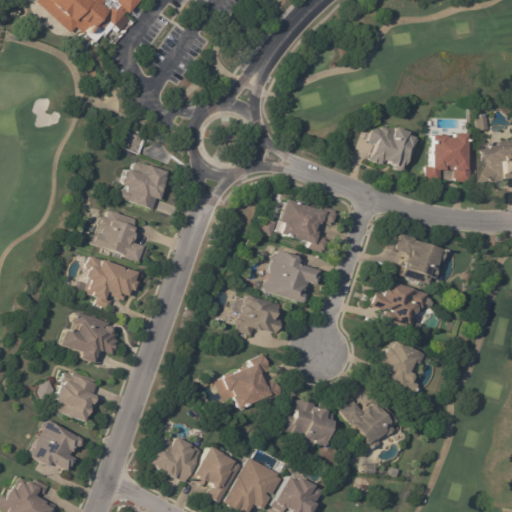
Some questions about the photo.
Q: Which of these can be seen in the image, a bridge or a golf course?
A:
golf course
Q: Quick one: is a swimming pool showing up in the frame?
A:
Yes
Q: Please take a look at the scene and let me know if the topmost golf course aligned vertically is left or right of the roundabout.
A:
on its left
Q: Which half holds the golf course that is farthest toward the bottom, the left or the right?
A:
right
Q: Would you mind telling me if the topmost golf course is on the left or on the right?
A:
right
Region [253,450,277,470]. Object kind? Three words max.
swimming pool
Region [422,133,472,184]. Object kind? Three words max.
house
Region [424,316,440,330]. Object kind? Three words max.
swimming pool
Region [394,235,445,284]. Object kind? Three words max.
house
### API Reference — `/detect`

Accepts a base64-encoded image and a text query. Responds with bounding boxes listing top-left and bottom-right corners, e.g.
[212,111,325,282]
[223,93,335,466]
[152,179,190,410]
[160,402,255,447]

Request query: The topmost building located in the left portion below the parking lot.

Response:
[117,161,168,210]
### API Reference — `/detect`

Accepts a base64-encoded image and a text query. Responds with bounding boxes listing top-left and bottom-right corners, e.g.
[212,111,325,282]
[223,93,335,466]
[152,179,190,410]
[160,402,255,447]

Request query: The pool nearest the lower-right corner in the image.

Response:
[378,444,400,461]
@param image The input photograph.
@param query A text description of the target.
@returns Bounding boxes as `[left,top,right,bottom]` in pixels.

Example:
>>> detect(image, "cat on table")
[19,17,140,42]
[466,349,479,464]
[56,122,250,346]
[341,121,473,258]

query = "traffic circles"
[190,80,288,210]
